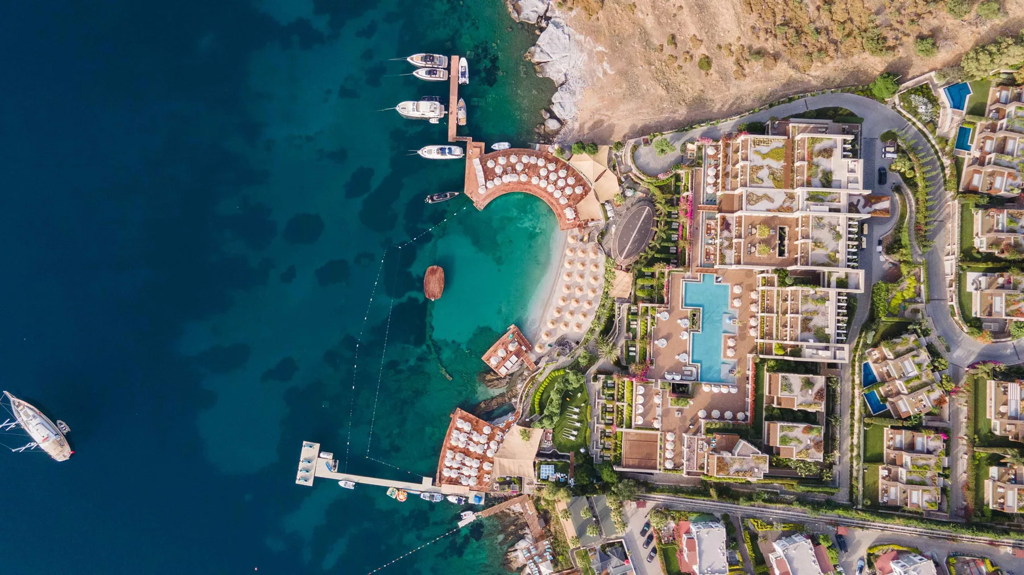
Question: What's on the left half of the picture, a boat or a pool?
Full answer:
What appears on the left half of the picture is a boat.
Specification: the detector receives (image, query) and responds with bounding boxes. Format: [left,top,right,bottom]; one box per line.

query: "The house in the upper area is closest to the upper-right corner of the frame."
[983,86,1024,123]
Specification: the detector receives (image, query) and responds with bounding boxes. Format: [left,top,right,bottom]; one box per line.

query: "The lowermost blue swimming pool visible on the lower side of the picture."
[862,390,889,415]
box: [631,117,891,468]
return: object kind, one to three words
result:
building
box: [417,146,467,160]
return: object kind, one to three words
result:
boat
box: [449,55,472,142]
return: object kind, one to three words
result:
pier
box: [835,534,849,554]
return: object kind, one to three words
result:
vehicle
